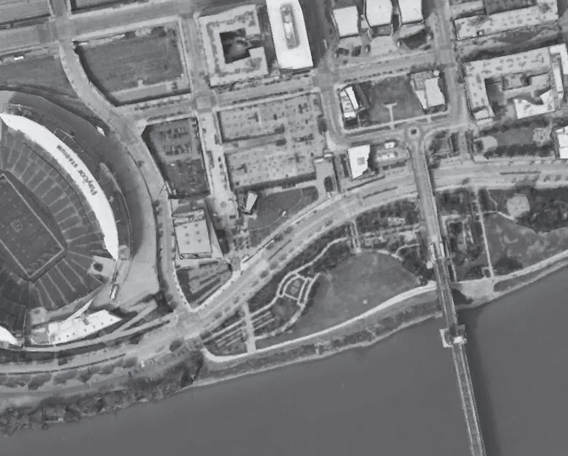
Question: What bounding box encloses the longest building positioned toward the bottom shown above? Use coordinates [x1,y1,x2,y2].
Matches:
[49,309,122,344]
